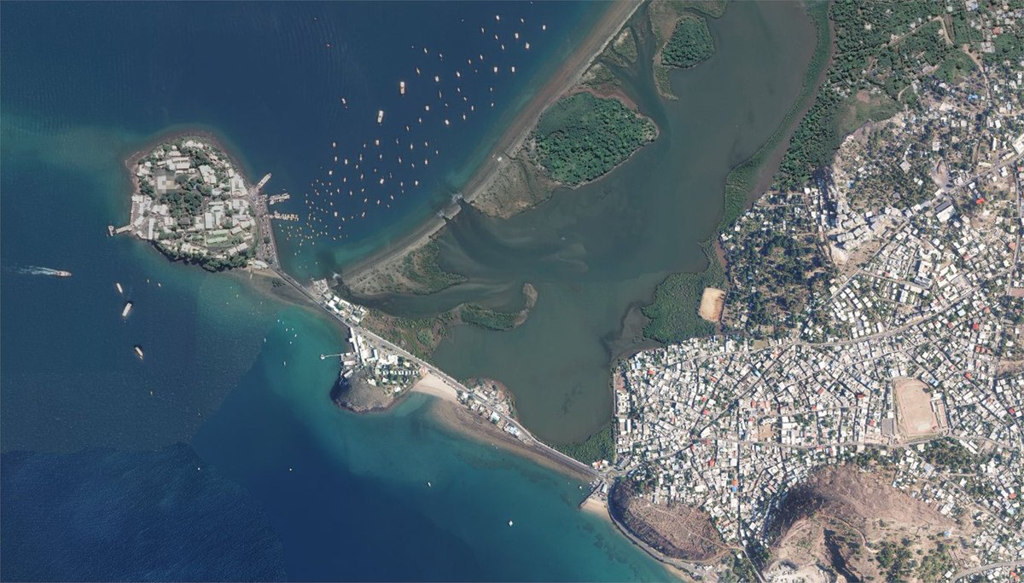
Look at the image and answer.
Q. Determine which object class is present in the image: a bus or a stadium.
stadium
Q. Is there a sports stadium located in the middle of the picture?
No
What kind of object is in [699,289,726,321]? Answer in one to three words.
sports field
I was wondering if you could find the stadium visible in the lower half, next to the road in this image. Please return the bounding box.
[892,373,942,441]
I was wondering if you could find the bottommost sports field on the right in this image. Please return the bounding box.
[900,380,932,431]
